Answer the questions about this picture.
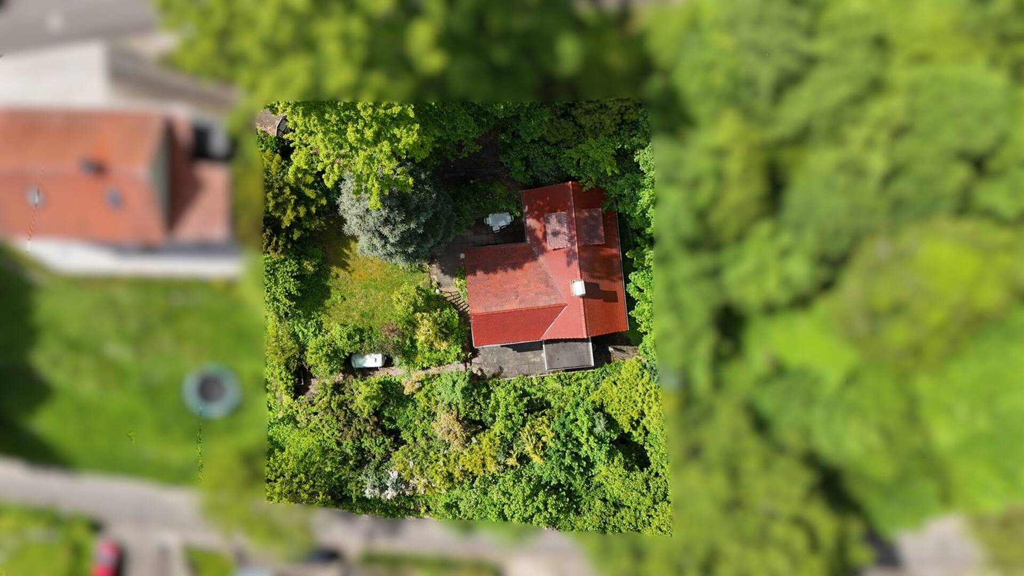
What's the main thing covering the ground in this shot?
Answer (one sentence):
Most of the picture is covered by trees.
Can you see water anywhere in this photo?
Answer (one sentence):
No, the scene doesn't show any water.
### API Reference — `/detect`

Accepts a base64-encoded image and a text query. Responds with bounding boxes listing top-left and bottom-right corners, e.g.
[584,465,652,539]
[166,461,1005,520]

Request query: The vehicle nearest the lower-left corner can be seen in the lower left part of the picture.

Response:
[91,533,125,576]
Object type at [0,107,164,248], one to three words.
house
